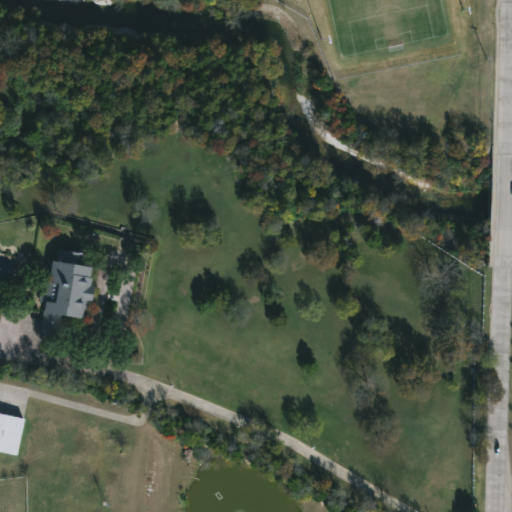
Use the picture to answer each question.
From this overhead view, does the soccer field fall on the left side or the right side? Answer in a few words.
right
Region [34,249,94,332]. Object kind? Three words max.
house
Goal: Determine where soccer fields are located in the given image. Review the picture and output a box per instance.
[328,0,448,58]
